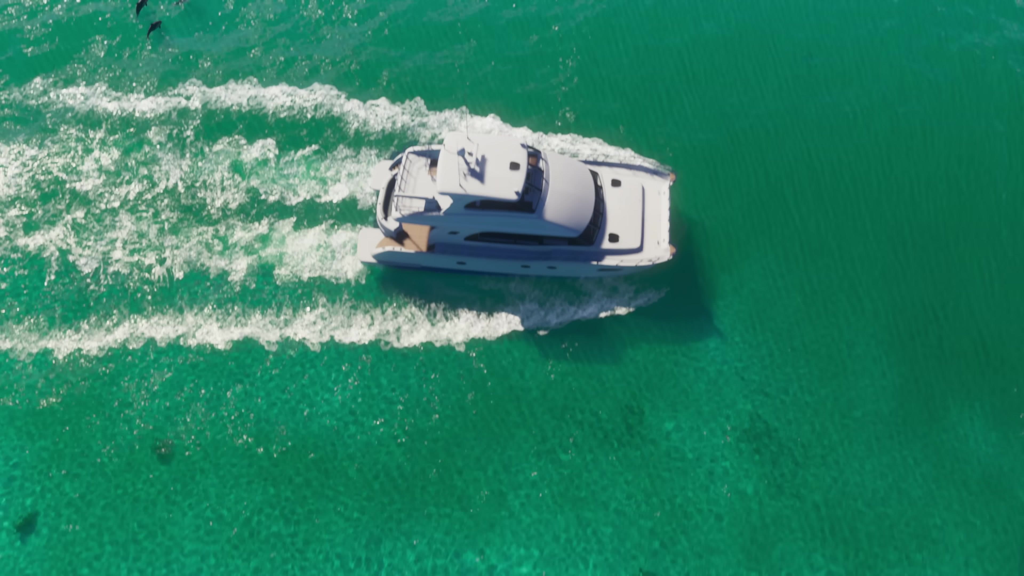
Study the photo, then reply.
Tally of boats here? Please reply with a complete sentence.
Altogether the scene contains 1 boat.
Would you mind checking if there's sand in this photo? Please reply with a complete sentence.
No, the picture contains no sand.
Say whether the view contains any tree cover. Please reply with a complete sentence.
No, tree cover can't be seen anywhere here.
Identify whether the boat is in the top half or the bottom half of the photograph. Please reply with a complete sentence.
It is in the top half that the boat appears.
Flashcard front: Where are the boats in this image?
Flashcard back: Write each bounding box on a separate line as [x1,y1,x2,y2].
[356,110,677,276]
